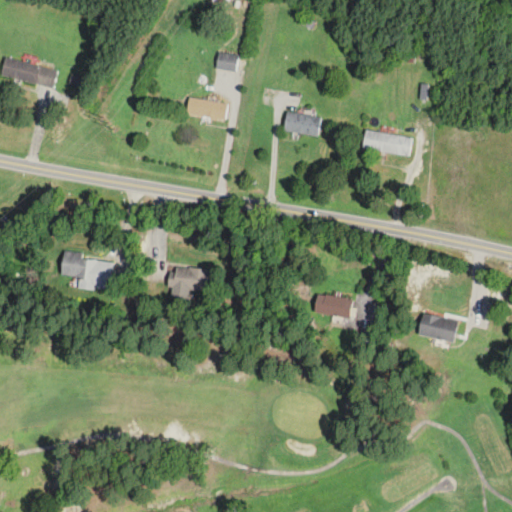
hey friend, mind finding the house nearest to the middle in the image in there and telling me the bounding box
[168,267,206,300]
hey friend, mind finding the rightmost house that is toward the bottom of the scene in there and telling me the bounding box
[419,313,459,342]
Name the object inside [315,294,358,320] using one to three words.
house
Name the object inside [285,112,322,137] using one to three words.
house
